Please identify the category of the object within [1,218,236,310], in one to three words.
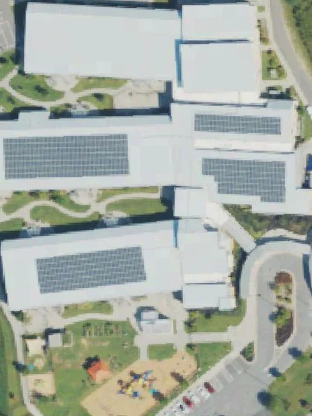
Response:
building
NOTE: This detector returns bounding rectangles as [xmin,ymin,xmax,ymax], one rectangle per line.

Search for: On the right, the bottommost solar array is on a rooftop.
[202,157,284,202]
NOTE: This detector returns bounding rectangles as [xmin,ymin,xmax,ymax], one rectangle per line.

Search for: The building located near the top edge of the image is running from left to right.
[24,2,264,102]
